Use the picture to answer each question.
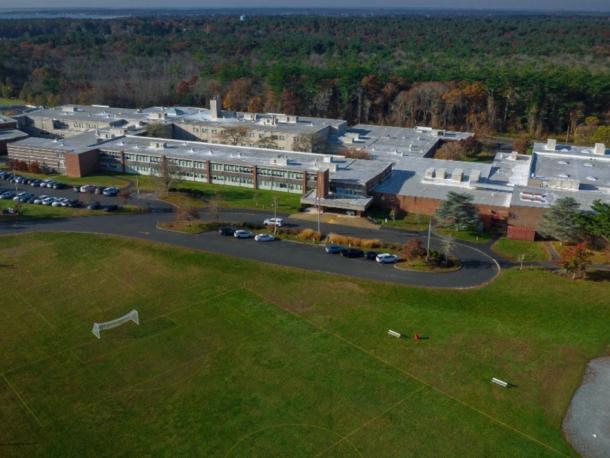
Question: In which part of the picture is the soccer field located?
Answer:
bottom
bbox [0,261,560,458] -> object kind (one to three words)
soccer field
